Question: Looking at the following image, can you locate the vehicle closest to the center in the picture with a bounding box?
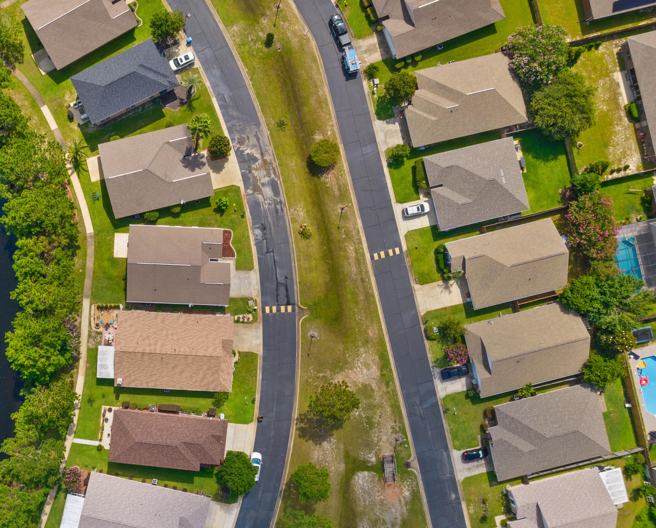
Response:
[401,201,430,217]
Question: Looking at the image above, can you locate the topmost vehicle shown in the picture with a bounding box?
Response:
[330,14,352,48]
